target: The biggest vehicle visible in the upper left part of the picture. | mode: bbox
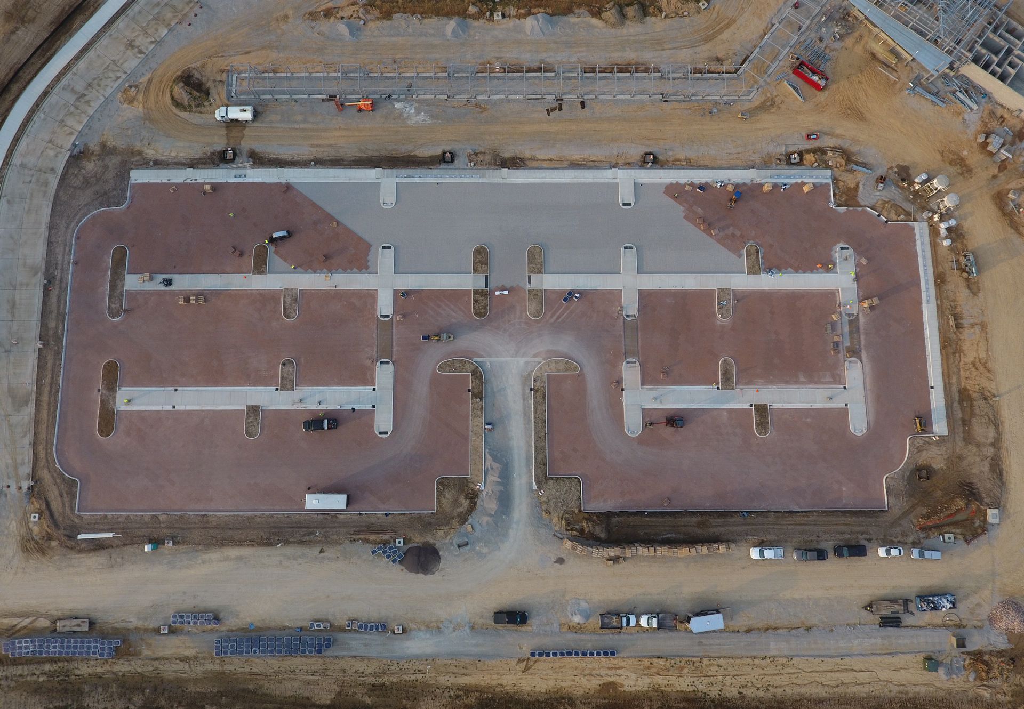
[212,105,262,124]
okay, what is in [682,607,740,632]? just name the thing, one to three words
trailer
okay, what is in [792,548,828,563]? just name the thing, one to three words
vehicle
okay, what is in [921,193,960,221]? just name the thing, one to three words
silo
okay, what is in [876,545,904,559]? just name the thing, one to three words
car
